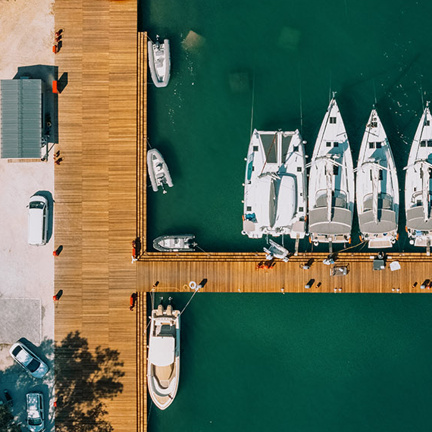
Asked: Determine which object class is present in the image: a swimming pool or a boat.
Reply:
boat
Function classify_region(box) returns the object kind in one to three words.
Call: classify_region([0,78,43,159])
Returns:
shed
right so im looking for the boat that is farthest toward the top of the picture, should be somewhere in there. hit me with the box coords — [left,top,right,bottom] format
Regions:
[147,31,171,87]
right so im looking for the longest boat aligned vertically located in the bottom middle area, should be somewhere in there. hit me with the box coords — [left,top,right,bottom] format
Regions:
[144,287,199,429]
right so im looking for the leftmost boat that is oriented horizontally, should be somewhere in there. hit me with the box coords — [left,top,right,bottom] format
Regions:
[152,234,208,253]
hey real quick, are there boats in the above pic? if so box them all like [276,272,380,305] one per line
[144,287,199,429]
[147,31,171,87]
[404,76,432,253]
[241,82,310,257]
[147,139,172,201]
[152,234,208,253]
[262,239,288,259]
[303,92,354,259]
[351,87,399,250]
